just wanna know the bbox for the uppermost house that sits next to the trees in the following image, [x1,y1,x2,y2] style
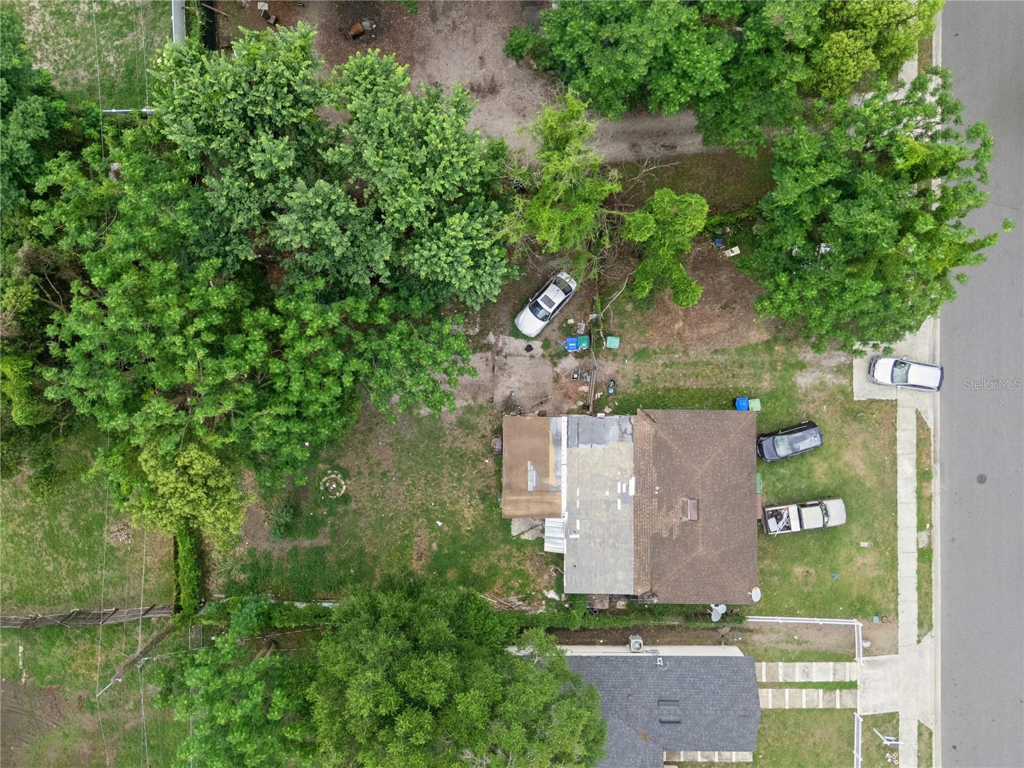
[503,409,758,608]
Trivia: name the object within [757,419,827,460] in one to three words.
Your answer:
car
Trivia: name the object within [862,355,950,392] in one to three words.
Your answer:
car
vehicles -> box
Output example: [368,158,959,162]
[862,355,950,392]
[757,419,827,460]
[757,496,847,537]
[515,270,579,338]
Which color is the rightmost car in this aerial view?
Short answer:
white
